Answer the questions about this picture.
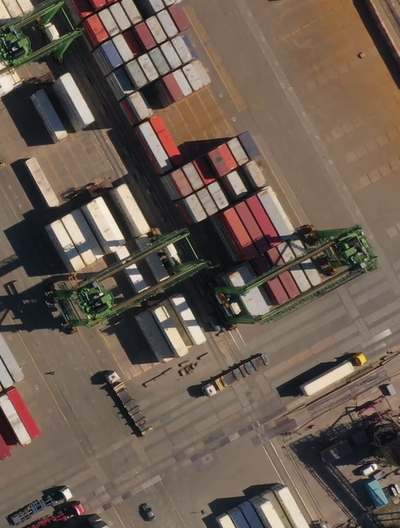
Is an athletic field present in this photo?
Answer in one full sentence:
No, there's no athletic field here.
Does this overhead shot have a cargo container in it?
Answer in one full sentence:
Yes, the picture does show a cargo container.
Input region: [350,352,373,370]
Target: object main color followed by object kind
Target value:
yellow vehicle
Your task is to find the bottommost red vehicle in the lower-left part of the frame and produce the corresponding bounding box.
[28,502,90,528]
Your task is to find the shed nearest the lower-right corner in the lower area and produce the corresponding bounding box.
[363,478,389,506]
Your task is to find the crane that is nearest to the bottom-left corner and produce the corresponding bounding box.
[48,227,205,336]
